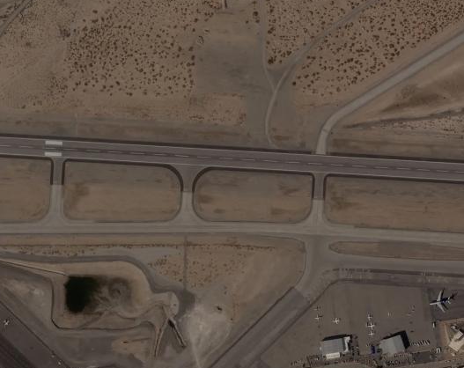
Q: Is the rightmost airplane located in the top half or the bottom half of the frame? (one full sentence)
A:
The bottom half of the photo is where the rightmost airplane is.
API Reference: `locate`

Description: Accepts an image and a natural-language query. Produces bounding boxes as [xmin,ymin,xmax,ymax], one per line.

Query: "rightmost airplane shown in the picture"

[431,291,453,312]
